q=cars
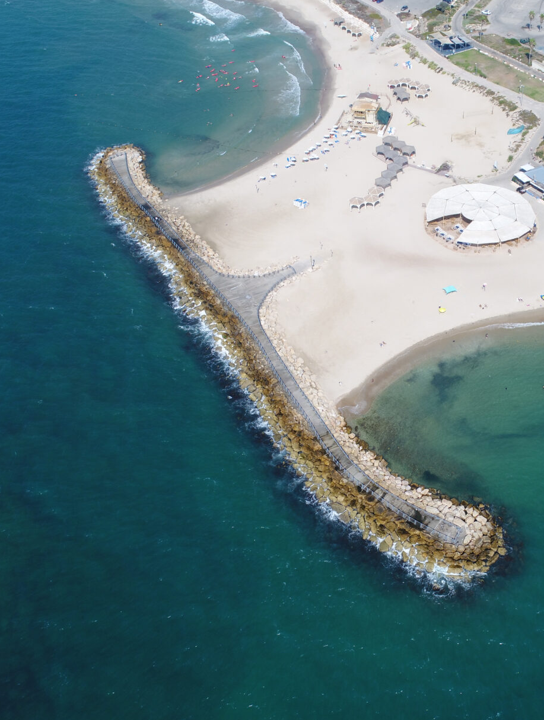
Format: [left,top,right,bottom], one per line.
[481,8,492,13]
[400,3,408,9]
[513,184,527,193]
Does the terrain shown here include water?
Yes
